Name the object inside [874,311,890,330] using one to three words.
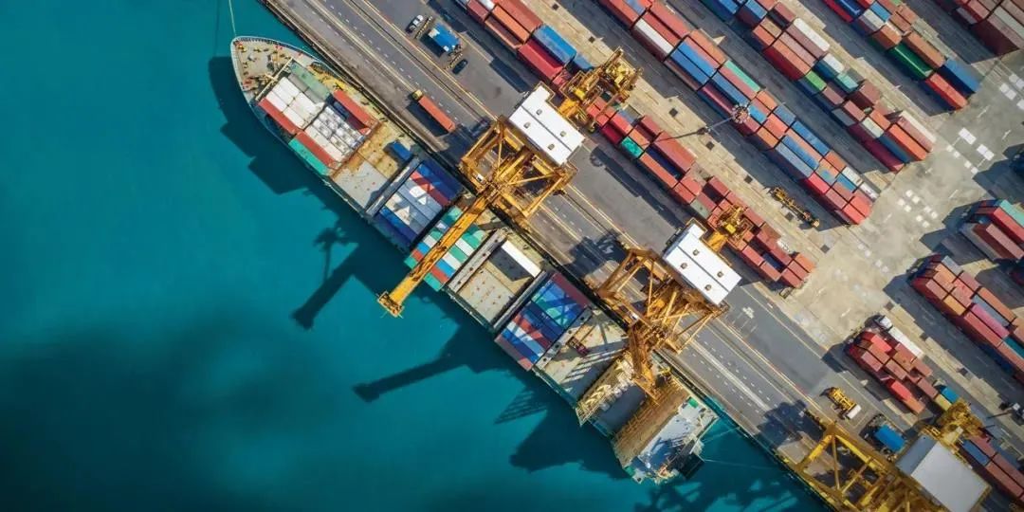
vehicle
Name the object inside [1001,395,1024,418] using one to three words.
truck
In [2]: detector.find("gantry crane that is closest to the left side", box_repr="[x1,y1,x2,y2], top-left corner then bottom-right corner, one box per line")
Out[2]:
[371,45,644,321]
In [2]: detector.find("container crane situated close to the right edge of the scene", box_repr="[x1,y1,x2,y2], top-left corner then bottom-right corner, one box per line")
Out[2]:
[772,405,987,512]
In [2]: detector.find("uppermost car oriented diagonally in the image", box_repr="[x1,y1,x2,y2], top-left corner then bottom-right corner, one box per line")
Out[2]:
[407,16,423,32]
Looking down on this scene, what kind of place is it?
port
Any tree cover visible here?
No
